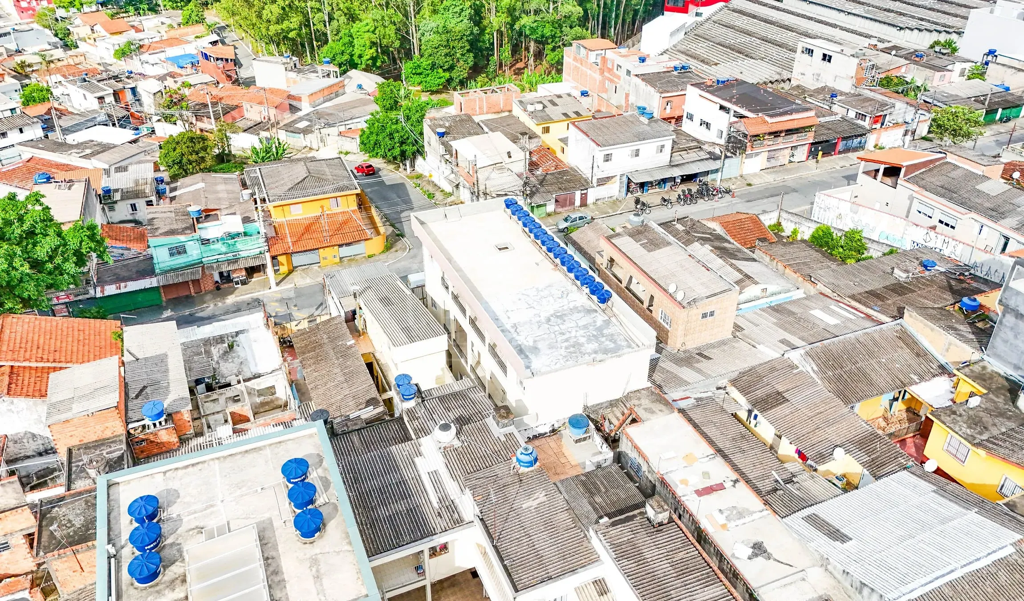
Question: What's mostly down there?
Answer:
buildings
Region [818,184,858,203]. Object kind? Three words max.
house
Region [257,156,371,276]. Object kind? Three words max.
house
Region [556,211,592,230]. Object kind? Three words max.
car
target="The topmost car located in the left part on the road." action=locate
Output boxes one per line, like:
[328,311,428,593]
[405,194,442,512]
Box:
[354,159,376,174]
